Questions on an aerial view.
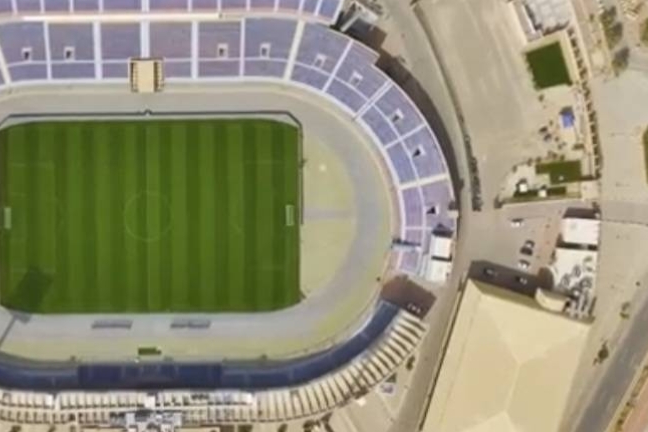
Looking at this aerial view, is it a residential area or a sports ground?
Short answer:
sports ground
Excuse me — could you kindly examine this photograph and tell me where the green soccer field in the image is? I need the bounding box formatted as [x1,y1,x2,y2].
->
[0,112,301,312]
